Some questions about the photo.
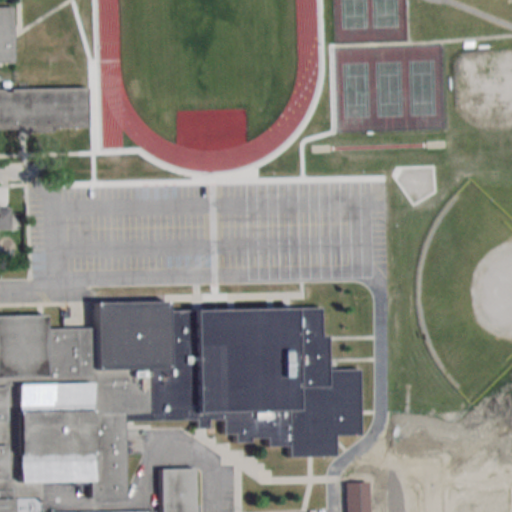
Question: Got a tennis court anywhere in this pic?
Yes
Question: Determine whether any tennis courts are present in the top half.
Yes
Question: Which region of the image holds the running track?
top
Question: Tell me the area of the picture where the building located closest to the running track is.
top left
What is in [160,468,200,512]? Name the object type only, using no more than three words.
building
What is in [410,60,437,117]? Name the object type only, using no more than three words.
tennis court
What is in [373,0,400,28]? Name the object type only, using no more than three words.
tennis court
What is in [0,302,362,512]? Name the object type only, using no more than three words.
building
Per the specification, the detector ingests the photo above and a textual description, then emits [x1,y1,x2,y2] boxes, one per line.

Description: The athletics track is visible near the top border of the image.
[100,0,317,172]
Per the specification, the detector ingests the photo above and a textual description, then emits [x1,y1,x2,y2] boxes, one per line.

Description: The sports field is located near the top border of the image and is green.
[120,0,297,146]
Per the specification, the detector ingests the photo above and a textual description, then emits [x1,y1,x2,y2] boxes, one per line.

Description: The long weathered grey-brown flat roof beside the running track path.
[0,88,90,131]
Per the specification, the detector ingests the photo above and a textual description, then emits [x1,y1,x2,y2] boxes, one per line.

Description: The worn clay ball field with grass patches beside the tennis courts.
[450,54,512,134]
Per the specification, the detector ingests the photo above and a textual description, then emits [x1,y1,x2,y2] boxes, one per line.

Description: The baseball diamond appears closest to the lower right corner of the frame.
[420,182,512,401]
